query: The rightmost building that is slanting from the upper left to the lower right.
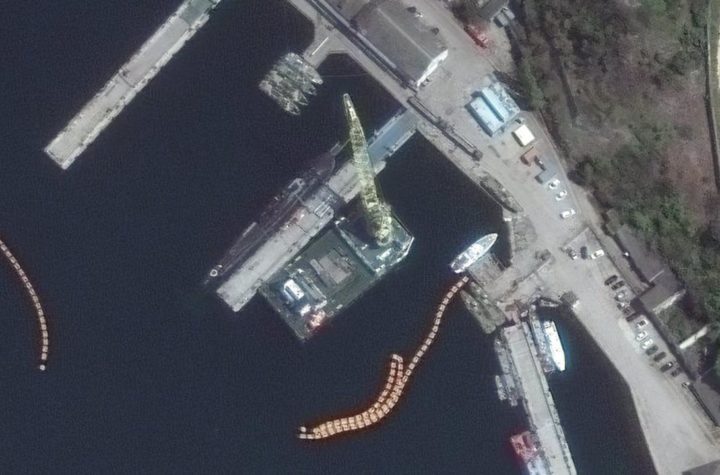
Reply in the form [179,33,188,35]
[615,222,672,286]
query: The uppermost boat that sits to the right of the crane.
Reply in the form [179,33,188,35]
[477,173,524,212]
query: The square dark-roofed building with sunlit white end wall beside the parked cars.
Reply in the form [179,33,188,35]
[638,269,686,309]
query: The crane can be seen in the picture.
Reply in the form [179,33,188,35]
[344,96,397,266]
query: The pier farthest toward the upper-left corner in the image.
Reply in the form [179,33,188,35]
[45,0,221,169]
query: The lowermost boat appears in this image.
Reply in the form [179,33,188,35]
[511,431,550,475]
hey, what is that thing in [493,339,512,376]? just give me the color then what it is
gray boat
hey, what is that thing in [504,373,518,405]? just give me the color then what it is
gray vessel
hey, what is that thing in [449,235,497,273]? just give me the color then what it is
white ship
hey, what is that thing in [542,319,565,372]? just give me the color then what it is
white vessel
